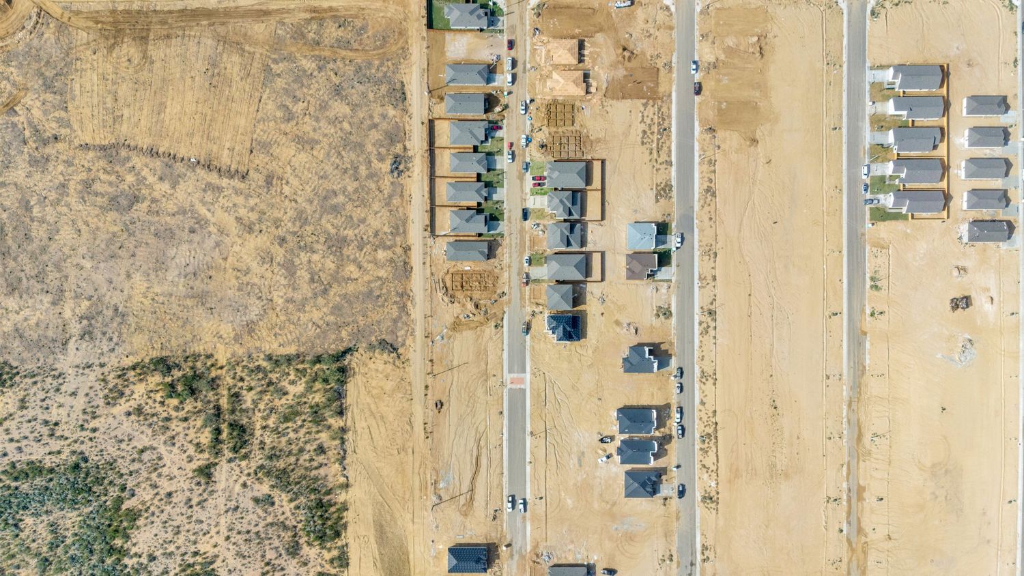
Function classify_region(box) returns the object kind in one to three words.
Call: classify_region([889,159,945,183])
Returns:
house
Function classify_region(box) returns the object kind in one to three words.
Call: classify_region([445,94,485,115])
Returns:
house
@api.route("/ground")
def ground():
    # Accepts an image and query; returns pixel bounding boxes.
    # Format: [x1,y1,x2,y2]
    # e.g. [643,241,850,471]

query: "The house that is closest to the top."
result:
[444,3,490,30]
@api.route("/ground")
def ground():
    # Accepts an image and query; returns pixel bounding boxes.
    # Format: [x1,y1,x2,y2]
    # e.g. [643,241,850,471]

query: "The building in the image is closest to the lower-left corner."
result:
[448,544,488,573]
